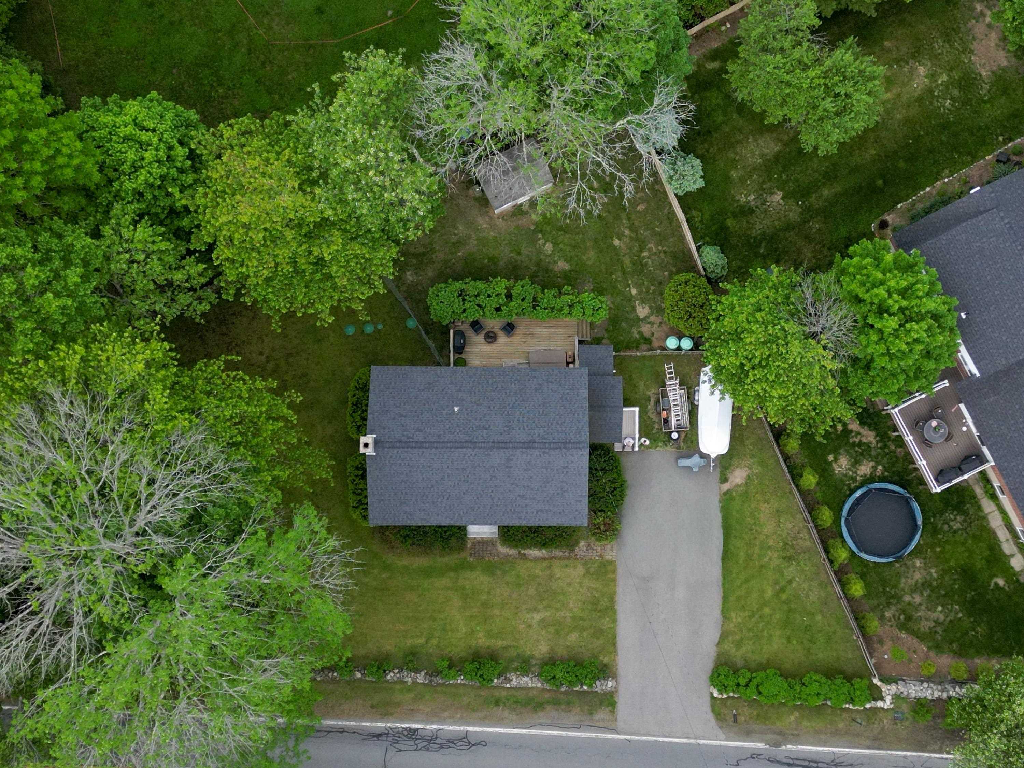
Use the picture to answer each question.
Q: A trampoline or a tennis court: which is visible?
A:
trampoline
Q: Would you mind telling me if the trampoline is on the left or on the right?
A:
right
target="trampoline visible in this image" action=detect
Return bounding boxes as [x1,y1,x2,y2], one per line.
[838,482,923,563]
